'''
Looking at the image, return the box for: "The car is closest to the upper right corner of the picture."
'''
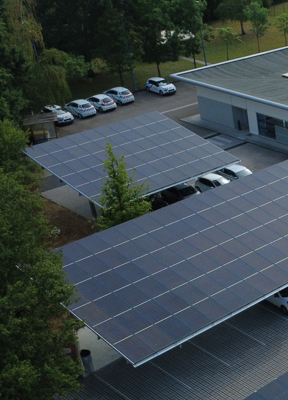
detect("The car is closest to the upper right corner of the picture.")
[145,77,176,96]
